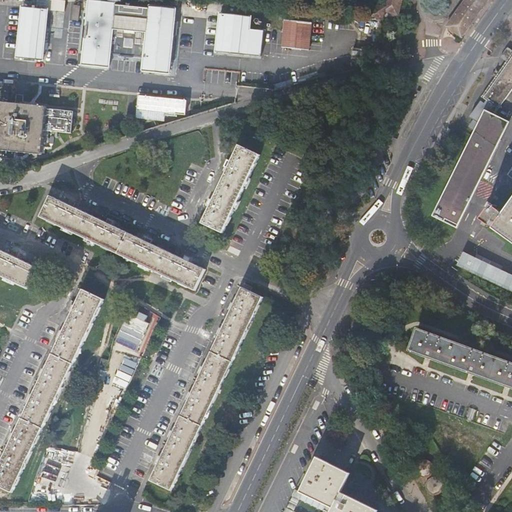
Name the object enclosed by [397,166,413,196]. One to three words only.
vehicle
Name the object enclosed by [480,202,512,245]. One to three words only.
building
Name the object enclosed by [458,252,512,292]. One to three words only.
shed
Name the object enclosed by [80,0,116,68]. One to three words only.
building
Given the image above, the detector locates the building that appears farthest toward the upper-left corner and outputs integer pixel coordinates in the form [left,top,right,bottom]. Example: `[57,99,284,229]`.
[14,6,50,62]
